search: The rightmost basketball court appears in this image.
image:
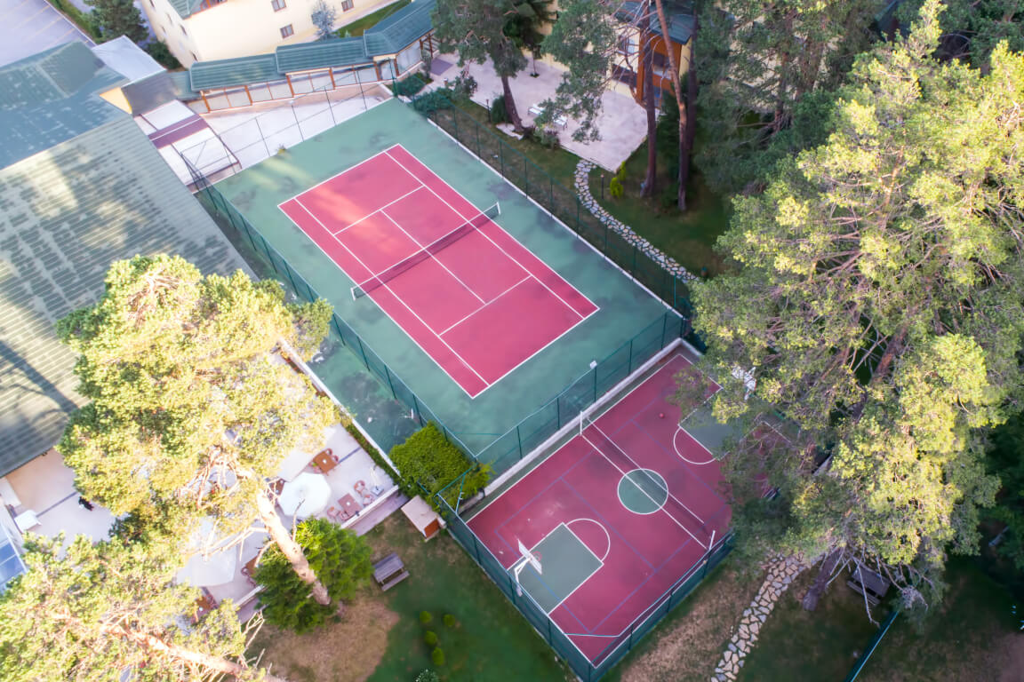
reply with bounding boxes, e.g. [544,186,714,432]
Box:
[448,340,819,682]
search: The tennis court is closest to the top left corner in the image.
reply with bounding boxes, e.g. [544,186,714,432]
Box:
[197,99,694,500]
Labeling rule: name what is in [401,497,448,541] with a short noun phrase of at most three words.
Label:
shed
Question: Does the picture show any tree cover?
Yes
